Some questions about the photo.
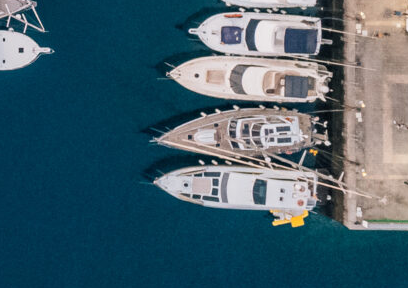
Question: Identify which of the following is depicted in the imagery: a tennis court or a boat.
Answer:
boat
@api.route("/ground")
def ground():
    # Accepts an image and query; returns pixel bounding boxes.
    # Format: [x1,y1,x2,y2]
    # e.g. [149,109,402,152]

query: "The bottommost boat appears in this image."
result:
[142,160,340,215]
